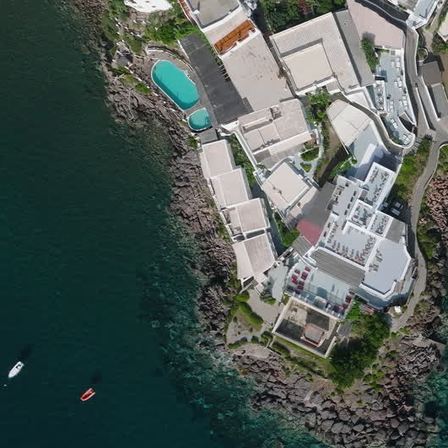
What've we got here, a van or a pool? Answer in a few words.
pool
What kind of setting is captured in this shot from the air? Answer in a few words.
residential area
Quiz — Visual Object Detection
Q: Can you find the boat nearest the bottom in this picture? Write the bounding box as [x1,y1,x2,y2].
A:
[80,387,97,401]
